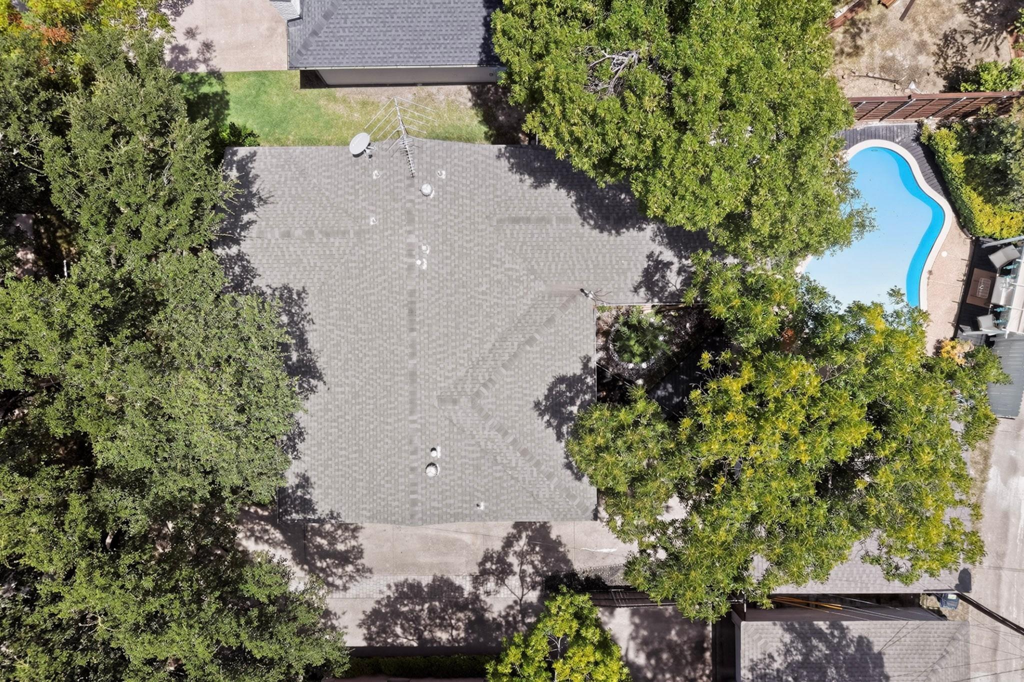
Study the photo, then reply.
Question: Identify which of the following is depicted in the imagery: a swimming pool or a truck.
swimming pool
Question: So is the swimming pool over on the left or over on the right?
right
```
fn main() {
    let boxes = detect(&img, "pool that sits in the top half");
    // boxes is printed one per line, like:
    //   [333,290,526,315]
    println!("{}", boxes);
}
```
[788,137,954,370]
